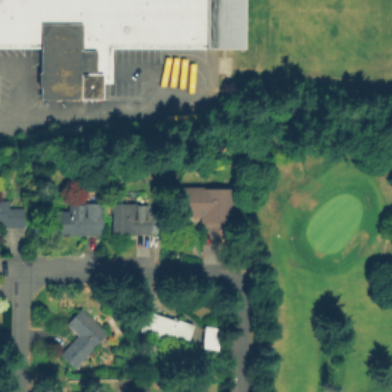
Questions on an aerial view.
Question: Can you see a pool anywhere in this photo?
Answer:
No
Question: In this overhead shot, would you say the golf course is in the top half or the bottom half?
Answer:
bottom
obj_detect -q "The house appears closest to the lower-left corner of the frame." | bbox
[64,308,108,368]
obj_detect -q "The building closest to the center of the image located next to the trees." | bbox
[186,188,233,230]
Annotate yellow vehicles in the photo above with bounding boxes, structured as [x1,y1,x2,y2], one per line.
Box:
[161,56,172,89]
[170,57,180,90]
[180,58,189,91]
[188,63,198,96]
